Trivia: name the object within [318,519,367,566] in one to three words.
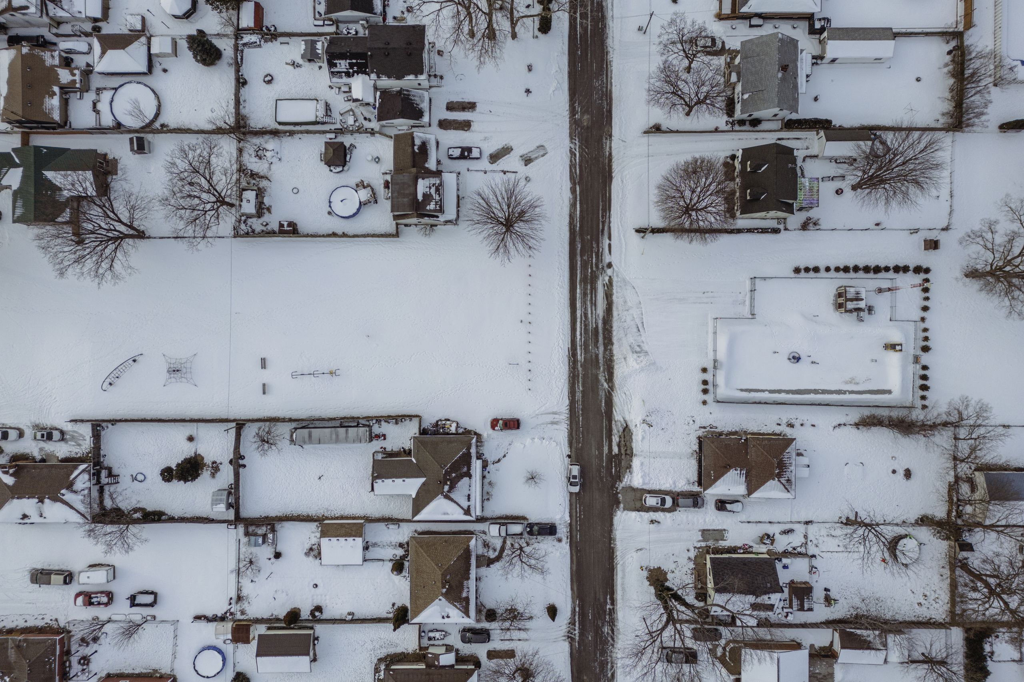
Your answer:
shed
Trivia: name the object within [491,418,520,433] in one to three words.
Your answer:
car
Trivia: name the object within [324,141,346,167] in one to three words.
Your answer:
gazebo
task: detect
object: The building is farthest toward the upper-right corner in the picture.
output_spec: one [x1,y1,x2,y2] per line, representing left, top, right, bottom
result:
[819,27,898,63]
